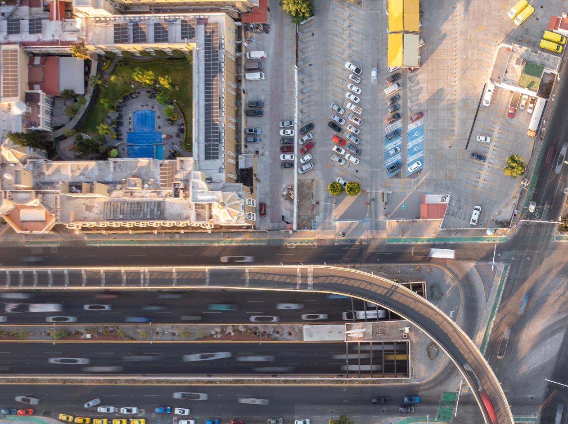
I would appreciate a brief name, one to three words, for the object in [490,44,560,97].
house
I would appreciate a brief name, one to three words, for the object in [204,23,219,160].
solar panel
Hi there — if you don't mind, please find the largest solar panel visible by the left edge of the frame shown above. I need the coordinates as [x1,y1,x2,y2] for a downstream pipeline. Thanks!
[1,49,17,96]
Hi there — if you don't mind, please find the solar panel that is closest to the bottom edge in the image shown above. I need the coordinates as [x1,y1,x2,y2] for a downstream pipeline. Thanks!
[159,162,174,187]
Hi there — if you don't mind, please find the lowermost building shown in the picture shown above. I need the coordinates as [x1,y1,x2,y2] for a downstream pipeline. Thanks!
[304,324,346,341]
